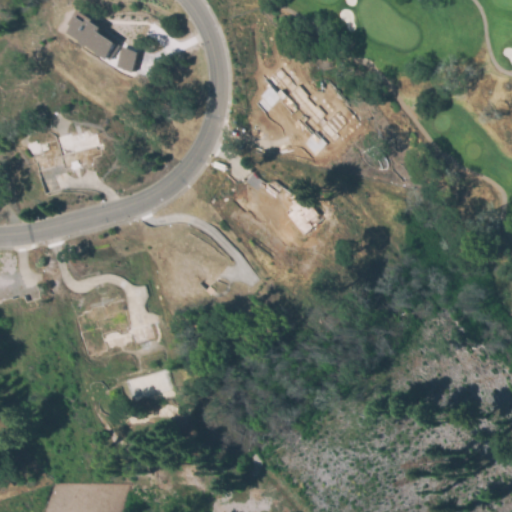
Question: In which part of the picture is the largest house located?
top left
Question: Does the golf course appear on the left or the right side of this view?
right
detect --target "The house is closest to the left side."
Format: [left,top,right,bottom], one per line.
[66,12,120,57]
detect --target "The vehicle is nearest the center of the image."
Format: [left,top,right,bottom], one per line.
[212,160,229,172]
